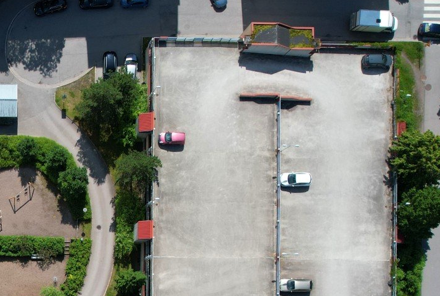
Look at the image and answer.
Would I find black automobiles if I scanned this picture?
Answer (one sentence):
Yes, there is a black automobile in the image.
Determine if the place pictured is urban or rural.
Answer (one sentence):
This place is urban.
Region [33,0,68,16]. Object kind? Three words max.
car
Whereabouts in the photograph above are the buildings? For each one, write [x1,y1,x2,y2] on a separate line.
[0,85,17,121]
[128,23,405,296]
